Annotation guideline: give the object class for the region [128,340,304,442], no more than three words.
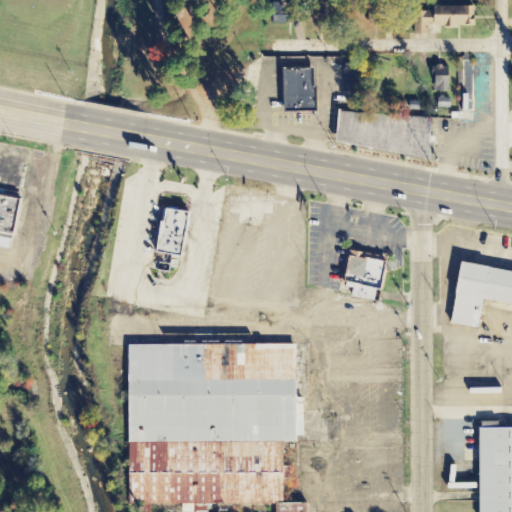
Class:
building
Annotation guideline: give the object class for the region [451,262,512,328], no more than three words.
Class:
building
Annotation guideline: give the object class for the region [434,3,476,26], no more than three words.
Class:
house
